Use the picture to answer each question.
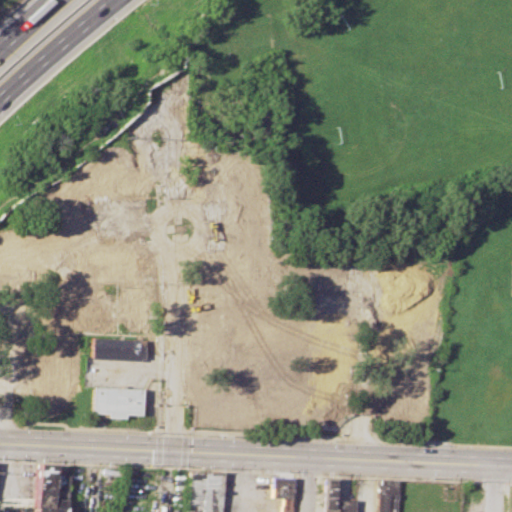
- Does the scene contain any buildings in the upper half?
No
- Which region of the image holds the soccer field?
top right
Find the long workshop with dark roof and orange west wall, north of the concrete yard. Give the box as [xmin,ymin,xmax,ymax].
[90,338,148,362]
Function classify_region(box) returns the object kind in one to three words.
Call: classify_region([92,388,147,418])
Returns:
building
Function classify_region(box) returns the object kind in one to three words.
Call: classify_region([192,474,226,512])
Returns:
building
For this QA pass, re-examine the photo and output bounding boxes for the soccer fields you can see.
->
[303,0,512,175]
